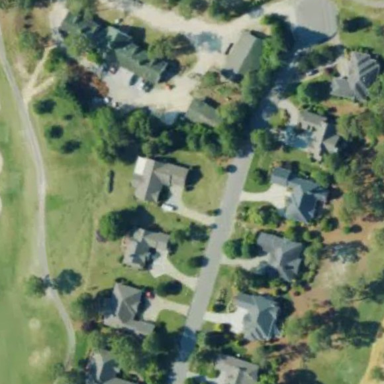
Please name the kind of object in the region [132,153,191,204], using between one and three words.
house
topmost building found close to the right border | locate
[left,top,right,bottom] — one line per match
[329,49,384,106]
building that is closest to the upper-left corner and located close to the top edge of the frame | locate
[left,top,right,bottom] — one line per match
[86,18,176,84]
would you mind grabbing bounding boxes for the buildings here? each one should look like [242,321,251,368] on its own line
[132,153,191,204]
[124,228,175,272]
[267,164,329,224]
[329,49,384,106]
[225,30,267,78]
[256,228,305,282]
[86,18,176,84]
[214,355,262,384]
[89,348,130,384]
[101,278,158,336]
[298,108,344,159]
[234,290,283,343]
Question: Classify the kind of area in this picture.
residential area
